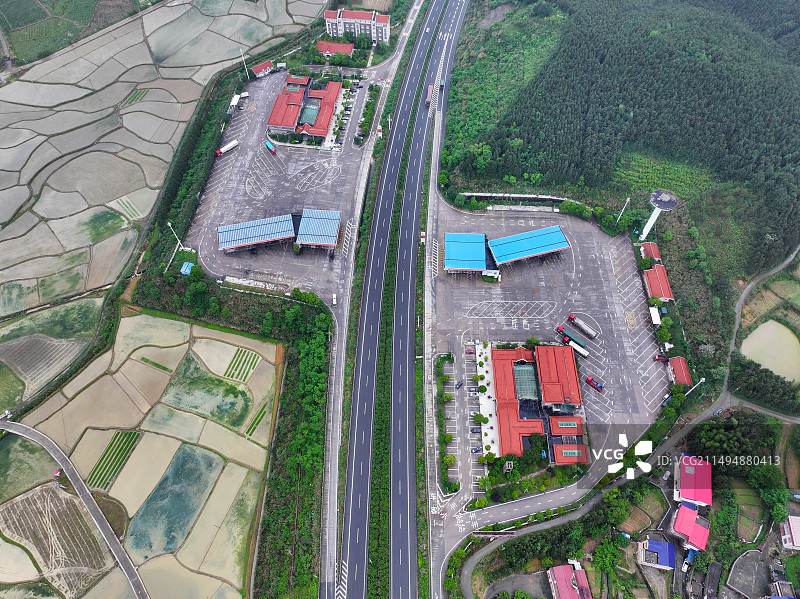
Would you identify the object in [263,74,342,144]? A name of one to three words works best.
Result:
building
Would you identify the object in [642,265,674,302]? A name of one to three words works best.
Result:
house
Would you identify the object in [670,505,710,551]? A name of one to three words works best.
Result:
house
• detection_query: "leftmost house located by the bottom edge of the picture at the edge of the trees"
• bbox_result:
[543,565,592,599]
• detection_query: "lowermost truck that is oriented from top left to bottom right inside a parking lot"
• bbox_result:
[584,373,607,394]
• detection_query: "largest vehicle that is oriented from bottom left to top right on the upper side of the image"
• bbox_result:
[216,139,238,156]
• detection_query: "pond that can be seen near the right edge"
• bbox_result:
[741,321,800,383]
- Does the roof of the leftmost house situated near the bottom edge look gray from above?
No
